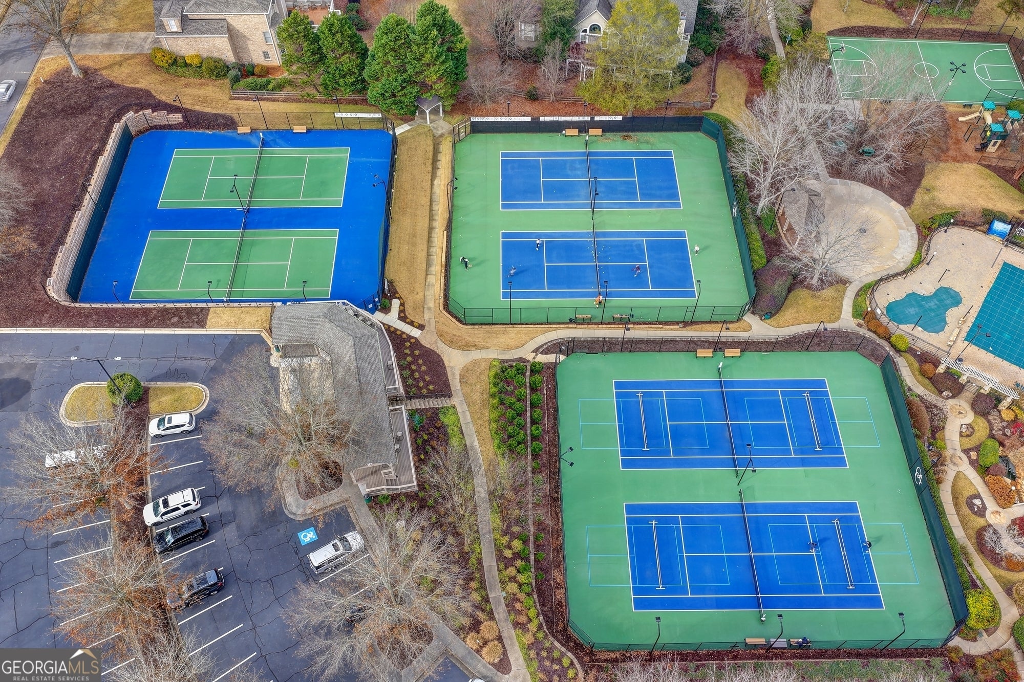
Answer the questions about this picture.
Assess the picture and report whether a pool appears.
Yes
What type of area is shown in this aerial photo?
sports ground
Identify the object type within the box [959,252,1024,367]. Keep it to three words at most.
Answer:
swimming pool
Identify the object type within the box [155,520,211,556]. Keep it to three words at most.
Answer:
car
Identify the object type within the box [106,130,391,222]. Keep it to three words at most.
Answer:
tennis court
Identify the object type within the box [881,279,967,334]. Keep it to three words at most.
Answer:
swimming pool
